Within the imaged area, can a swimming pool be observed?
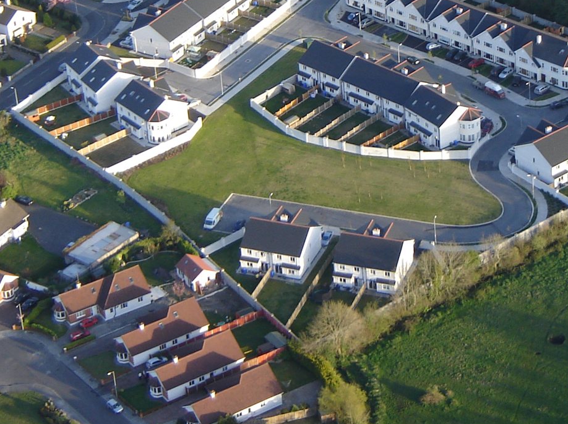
No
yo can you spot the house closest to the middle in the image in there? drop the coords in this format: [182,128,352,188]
[238,205,322,282]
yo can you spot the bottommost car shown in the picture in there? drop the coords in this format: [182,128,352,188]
[103,395,125,411]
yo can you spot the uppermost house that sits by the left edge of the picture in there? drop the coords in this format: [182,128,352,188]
[0,0,38,45]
